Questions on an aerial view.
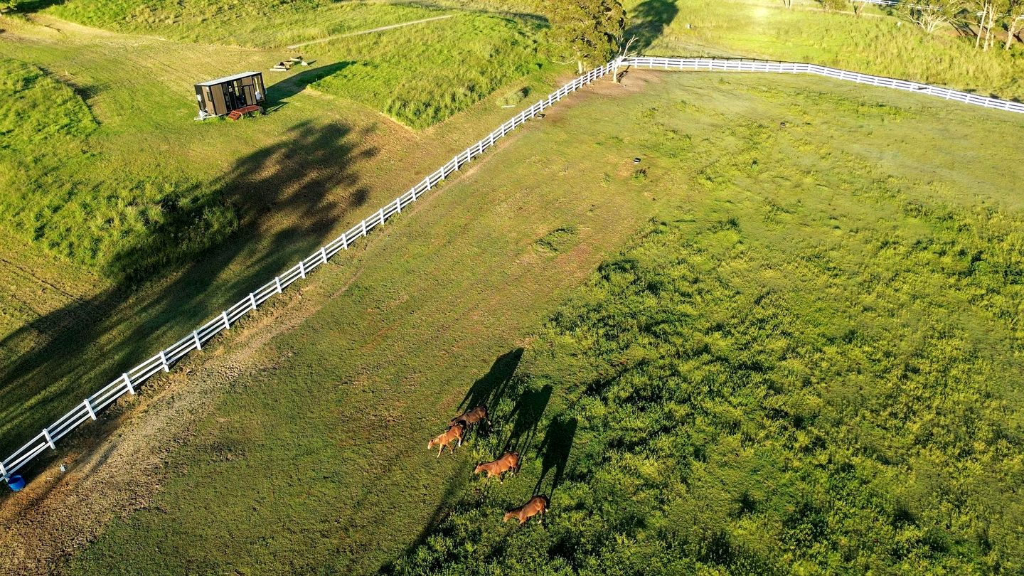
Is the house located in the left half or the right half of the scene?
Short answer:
left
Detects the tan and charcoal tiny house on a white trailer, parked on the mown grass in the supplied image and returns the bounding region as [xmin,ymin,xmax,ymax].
[194,70,266,122]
